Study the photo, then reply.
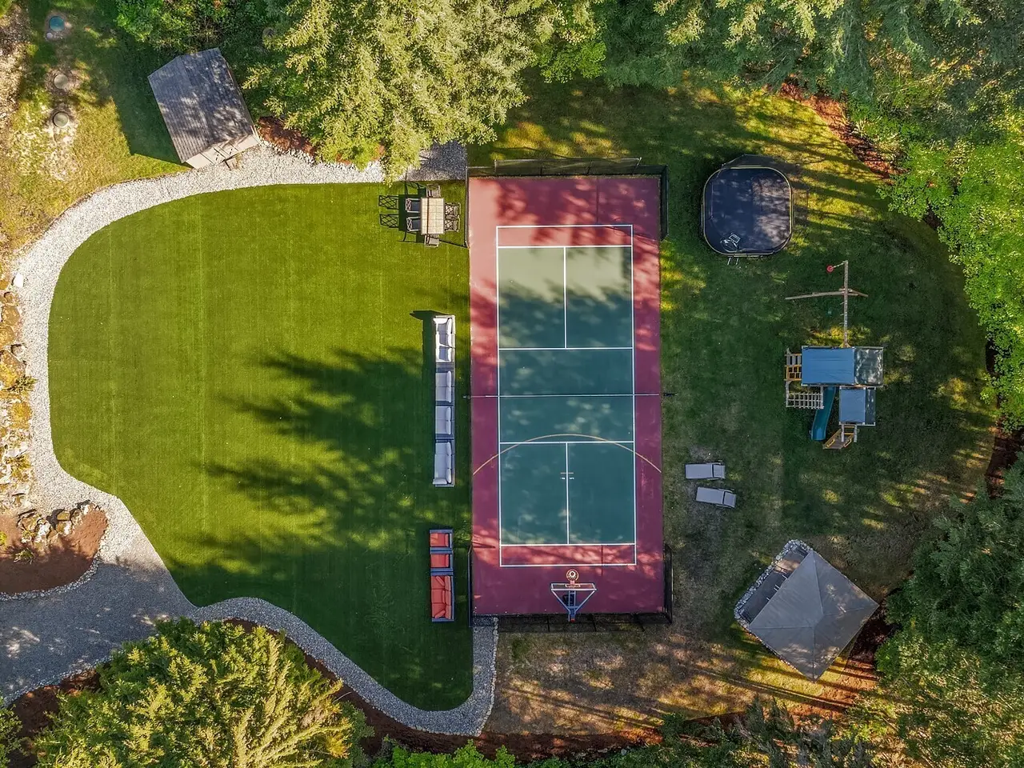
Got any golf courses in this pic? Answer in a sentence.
No, no golf course is visible in the view.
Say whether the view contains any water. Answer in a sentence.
No, there's no water in this view.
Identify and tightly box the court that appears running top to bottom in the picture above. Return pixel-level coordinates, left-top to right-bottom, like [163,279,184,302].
[469,175,665,616]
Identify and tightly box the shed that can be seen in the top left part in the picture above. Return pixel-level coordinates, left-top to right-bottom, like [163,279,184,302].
[147,48,264,172]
